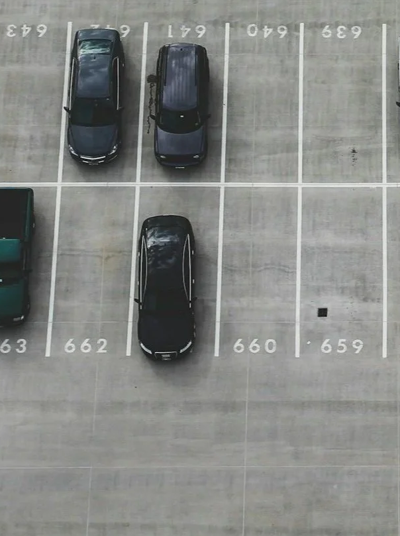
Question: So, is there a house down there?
No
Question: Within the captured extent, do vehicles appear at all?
Yes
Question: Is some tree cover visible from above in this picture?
No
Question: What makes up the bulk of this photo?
paved ground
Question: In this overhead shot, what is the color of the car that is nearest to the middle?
black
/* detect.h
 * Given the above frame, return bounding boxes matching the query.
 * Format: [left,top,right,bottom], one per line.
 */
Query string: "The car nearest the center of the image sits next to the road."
[132,215,199,362]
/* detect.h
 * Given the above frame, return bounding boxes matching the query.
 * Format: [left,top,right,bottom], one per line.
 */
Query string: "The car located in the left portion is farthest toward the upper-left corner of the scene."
[61,28,126,167]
